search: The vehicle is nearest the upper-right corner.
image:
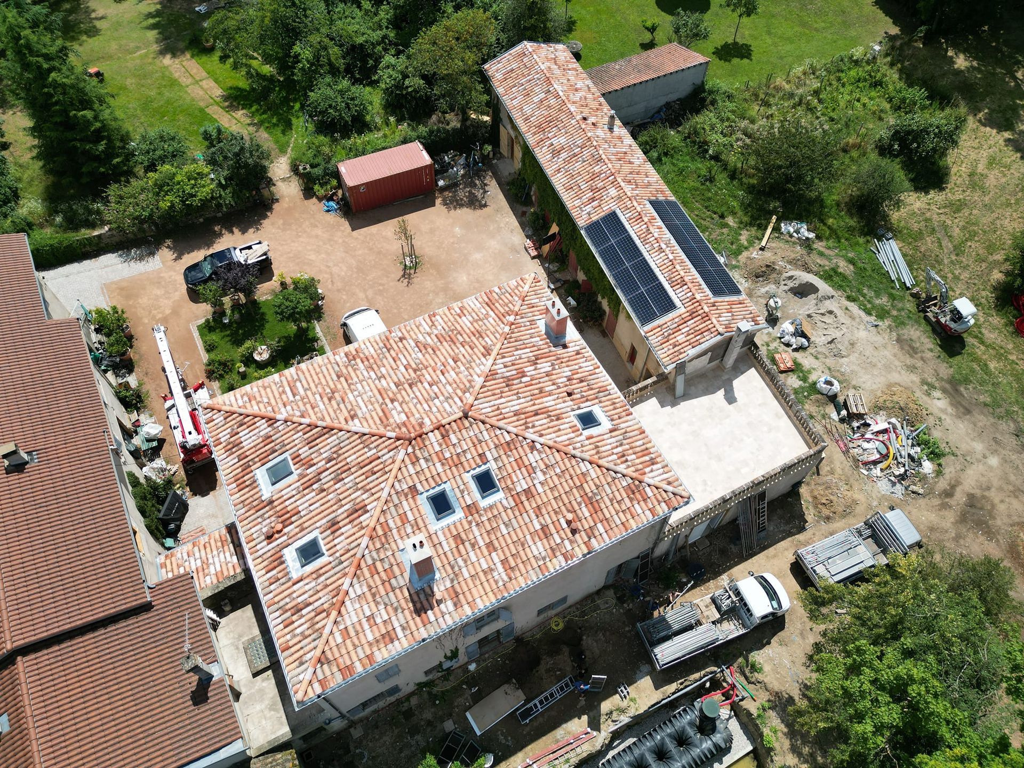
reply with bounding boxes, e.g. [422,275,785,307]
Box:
[917,266,977,339]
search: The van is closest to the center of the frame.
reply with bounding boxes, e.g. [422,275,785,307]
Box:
[343,307,385,340]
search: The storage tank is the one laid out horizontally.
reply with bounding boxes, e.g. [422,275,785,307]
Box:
[590,702,732,768]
